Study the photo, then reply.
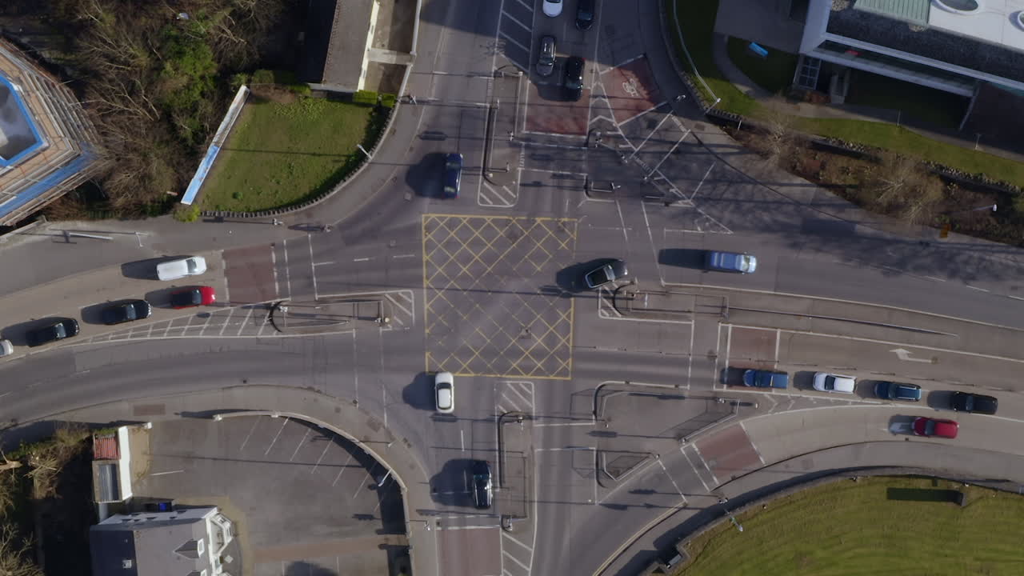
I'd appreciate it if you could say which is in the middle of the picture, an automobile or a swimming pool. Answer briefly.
automobile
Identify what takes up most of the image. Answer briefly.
paved ground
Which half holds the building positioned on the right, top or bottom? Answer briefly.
top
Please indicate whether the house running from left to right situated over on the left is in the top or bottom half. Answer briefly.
bottom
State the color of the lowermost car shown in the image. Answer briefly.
black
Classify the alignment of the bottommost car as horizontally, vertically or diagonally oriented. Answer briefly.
vertically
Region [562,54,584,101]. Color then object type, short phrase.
black car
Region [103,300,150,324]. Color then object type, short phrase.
black car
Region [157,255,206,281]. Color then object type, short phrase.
white vehicle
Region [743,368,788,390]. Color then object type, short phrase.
blue car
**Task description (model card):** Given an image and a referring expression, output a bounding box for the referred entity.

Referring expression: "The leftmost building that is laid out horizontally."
[89,508,237,576]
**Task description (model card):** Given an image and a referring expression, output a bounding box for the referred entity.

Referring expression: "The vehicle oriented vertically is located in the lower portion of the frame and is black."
[471,461,492,508]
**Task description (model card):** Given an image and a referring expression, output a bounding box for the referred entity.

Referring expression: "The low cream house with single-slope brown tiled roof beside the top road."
[315,0,380,98]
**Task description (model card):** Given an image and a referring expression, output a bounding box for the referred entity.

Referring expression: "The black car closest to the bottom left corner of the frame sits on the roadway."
[28,318,78,345]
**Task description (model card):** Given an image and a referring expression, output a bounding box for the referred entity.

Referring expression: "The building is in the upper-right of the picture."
[791,0,1024,144]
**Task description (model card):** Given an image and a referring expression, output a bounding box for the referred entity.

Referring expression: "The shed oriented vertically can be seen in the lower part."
[93,423,133,521]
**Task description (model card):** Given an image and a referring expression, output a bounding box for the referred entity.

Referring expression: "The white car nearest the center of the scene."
[434,372,455,412]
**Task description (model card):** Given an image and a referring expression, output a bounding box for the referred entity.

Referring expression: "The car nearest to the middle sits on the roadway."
[583,259,629,288]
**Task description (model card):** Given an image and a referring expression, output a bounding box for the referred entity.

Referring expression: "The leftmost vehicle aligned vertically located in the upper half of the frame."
[442,153,463,198]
